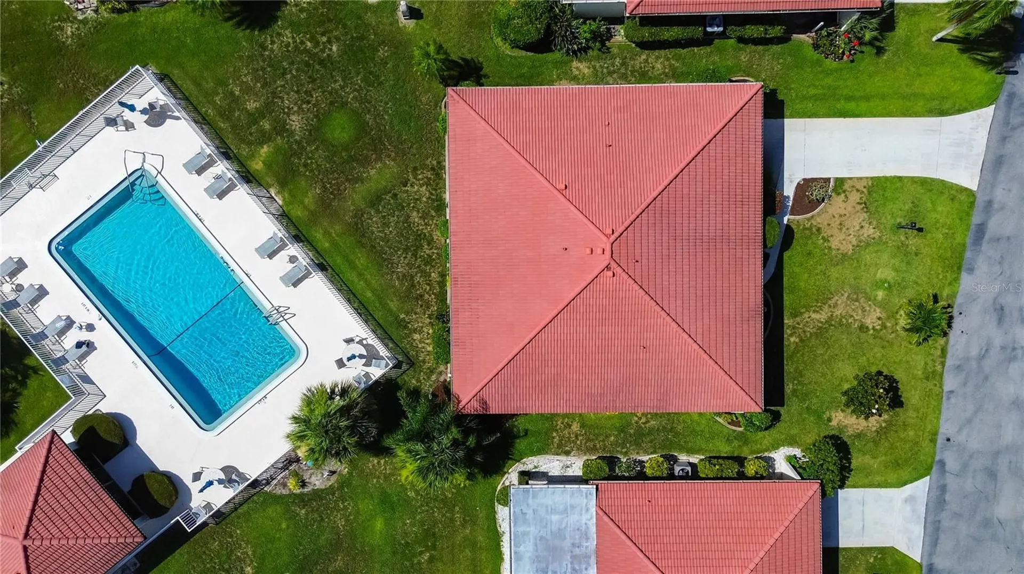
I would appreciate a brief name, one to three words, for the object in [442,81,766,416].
house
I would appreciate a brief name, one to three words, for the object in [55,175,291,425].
swimming pool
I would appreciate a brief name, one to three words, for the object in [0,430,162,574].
building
